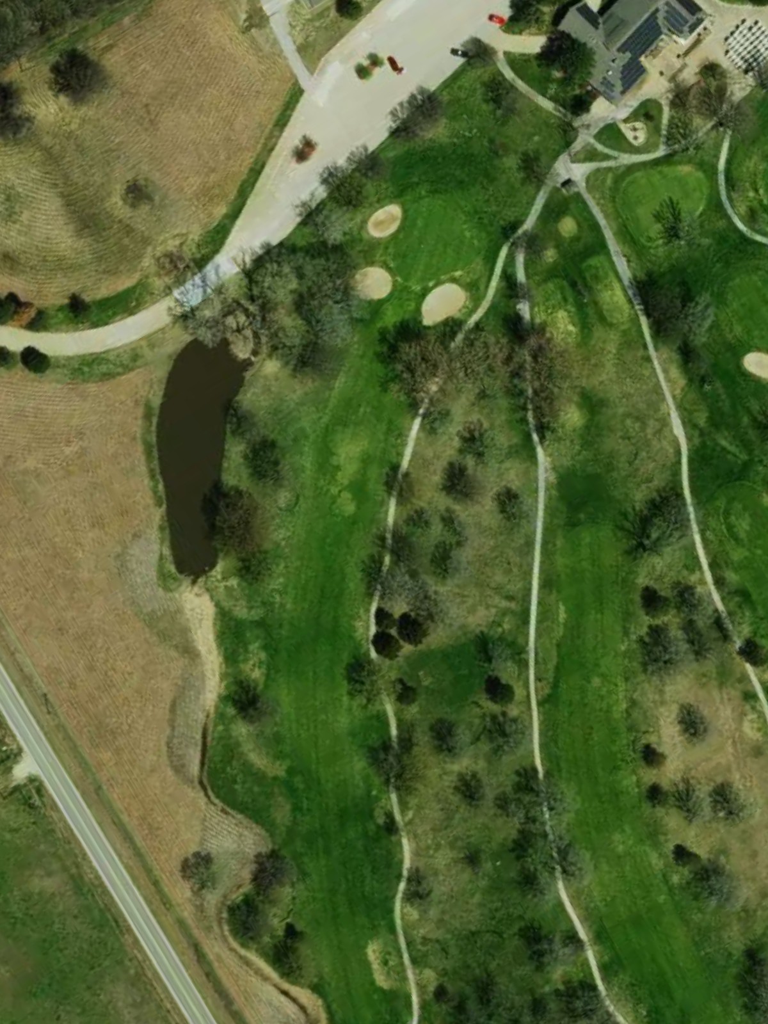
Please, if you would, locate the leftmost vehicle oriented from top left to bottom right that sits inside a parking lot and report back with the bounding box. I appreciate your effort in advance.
[387,55,400,71]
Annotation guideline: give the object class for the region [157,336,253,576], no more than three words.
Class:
pond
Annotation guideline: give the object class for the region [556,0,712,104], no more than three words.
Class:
building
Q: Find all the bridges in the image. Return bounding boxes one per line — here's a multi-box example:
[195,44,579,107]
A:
[176,256,232,309]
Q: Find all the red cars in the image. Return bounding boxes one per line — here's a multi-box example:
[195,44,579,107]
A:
[488,13,506,24]
[387,55,400,71]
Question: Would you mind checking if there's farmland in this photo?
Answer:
Yes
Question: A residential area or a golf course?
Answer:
golf course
